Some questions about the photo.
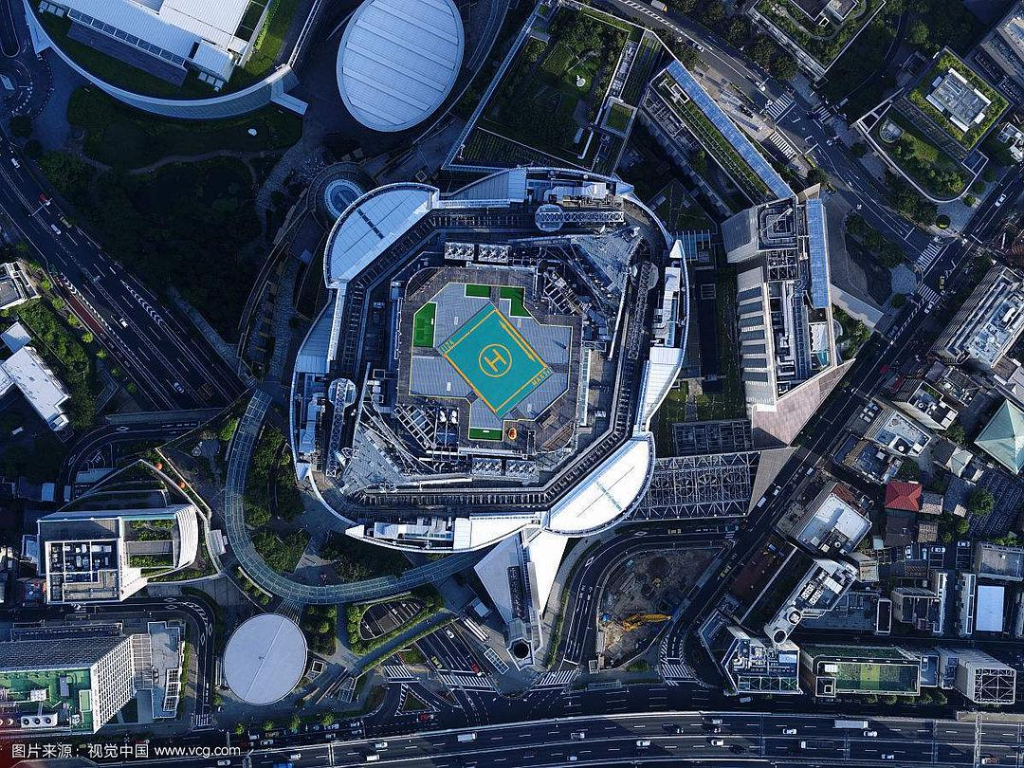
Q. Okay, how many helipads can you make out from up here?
1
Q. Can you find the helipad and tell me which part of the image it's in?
center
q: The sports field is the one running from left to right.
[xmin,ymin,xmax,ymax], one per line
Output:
[837,666,901,691]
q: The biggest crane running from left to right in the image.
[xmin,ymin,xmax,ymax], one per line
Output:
[533,201,625,234]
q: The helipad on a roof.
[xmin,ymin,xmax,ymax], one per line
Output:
[398,267,582,456]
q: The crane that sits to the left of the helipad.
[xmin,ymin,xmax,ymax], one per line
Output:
[324,377,360,476]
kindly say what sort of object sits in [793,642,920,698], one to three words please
building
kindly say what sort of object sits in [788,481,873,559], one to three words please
building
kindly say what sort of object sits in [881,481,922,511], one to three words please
house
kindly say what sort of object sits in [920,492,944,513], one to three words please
house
